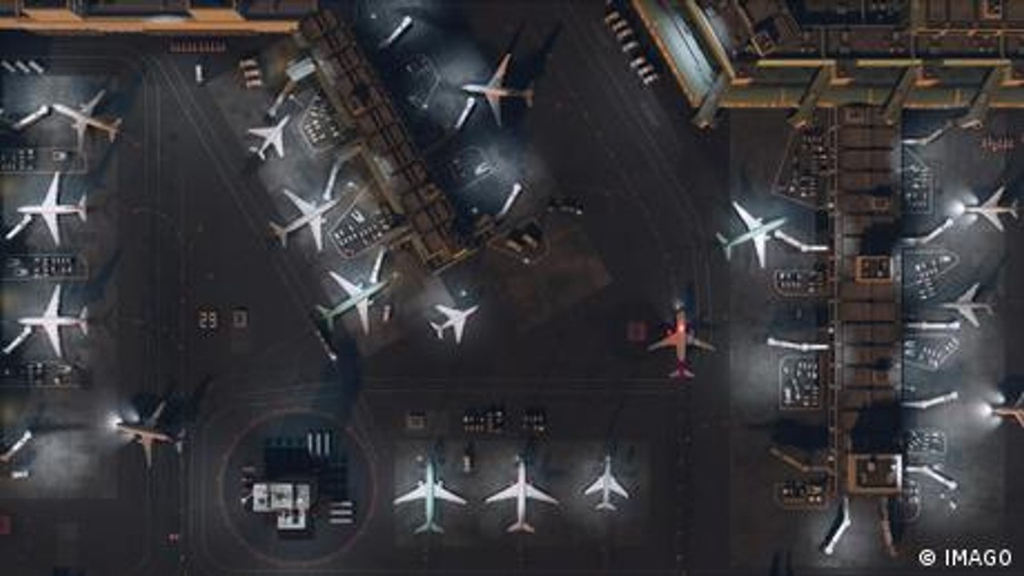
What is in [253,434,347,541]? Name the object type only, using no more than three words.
building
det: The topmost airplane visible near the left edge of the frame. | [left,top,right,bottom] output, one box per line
[51,84,123,144]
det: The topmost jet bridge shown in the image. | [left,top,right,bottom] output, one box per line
[369,15,413,54]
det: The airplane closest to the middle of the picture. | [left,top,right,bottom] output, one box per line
[427,298,480,342]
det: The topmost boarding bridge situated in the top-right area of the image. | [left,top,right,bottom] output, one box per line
[902,124,948,145]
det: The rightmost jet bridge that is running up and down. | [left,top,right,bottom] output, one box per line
[882,496,896,556]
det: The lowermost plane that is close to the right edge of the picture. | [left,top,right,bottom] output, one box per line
[993,394,1024,438]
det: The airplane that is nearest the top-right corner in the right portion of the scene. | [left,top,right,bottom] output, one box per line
[967,187,1023,232]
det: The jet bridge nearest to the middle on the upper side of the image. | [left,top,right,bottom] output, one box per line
[494,183,522,217]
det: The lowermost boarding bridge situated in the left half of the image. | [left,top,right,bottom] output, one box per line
[0,431,35,461]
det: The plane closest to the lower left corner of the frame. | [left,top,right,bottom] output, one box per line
[116,401,188,466]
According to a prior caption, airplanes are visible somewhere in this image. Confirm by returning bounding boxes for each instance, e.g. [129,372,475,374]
[51,84,123,144]
[993,394,1024,438]
[427,298,480,342]
[648,309,716,379]
[484,462,559,536]
[16,285,86,359]
[944,285,997,329]
[584,457,630,519]
[261,185,337,249]
[311,267,391,333]
[967,187,1023,232]
[16,172,85,246]
[715,201,786,266]
[116,401,188,466]
[248,114,289,162]
[392,462,466,537]
[462,53,536,126]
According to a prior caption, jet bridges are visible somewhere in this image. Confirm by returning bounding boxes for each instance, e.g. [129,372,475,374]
[367,239,394,284]
[902,391,959,408]
[442,95,477,141]
[773,228,826,251]
[902,124,948,145]
[2,327,35,355]
[766,334,826,349]
[369,15,413,54]
[494,183,522,217]
[0,431,35,461]
[0,107,5,119]
[4,214,36,241]
[903,465,957,490]
[882,496,896,556]
[902,218,954,244]
[320,150,359,201]
[13,105,51,129]
[822,496,851,555]
[266,82,295,119]
[768,446,826,472]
